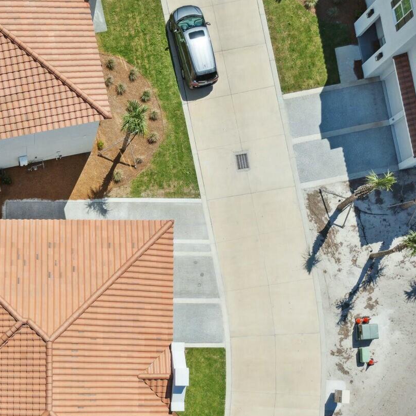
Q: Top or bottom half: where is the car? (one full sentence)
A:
Seen from above, the car lies in the top half of the view.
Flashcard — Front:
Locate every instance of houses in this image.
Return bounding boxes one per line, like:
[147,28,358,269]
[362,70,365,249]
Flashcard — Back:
[0,216,195,416]
[0,0,114,171]
[357,0,416,169]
